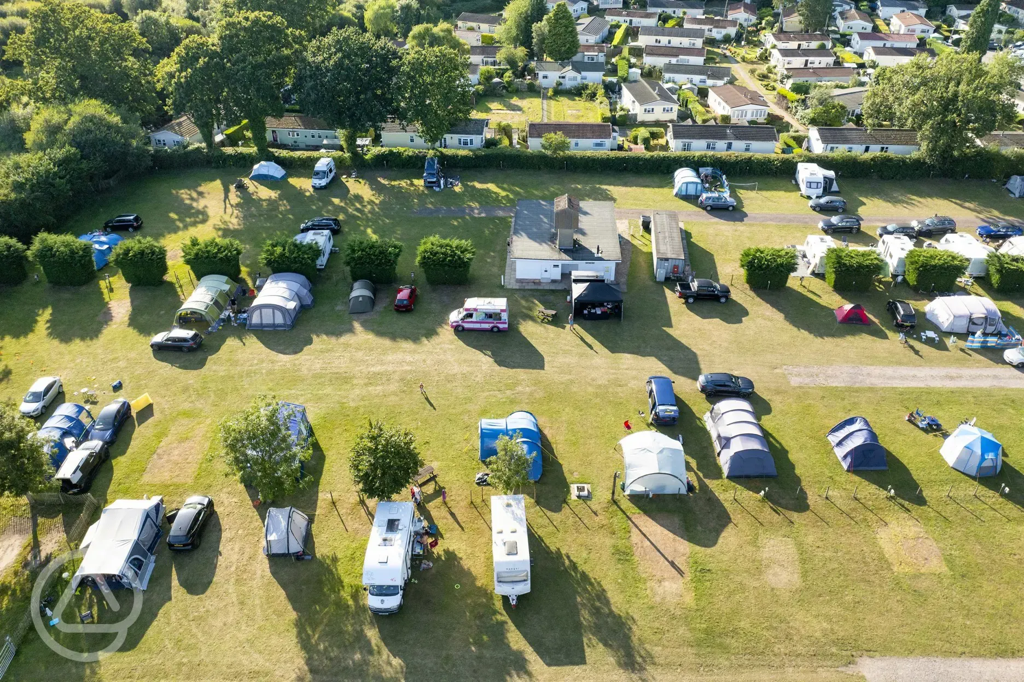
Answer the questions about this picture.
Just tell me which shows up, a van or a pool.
van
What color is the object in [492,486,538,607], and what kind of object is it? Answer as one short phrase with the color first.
white camper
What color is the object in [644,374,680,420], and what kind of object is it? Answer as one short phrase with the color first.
blue vehicle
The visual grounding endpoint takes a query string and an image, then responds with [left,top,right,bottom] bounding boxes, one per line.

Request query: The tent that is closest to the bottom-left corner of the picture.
[66,494,164,599]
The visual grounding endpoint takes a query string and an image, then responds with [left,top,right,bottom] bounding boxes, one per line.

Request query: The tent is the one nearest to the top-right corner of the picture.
[1000,175,1024,197]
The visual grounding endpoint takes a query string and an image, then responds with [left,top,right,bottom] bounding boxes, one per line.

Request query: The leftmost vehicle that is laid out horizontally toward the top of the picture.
[98,212,146,232]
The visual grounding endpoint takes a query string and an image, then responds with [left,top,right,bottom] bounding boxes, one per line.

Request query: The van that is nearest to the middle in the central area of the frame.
[446,294,509,332]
